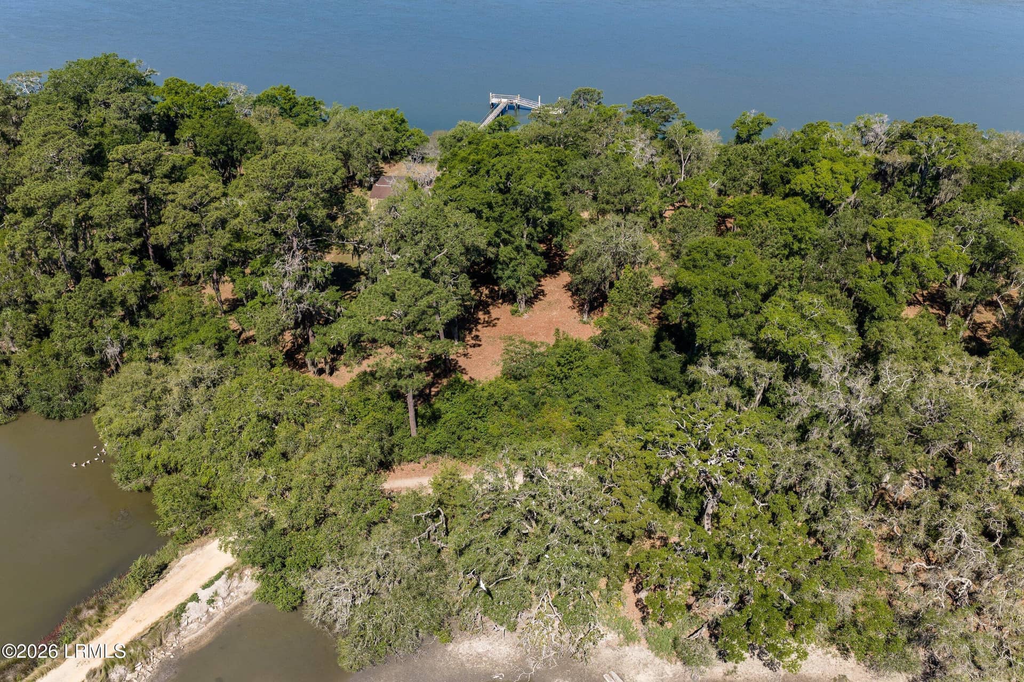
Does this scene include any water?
Yes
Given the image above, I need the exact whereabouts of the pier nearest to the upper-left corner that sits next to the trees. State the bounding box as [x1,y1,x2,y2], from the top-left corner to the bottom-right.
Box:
[473,91,520,130]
